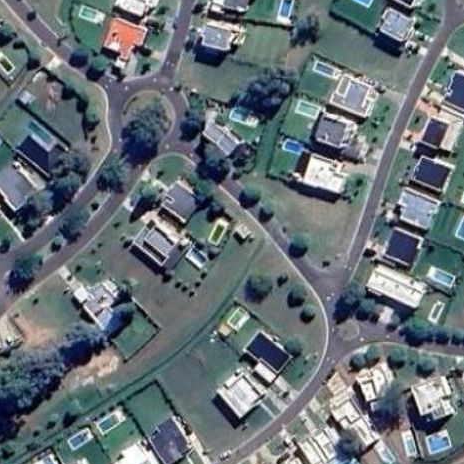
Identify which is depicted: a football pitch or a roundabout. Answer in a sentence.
I can see a roundabout in this picture.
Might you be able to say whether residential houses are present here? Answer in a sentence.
Yes, the photo shows a residential house.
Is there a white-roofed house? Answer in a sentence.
Yes, I can see a white-roofed house in this picture.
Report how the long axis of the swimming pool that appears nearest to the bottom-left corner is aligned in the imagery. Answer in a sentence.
The swimming pool that appears nearest to the bottom-left corner is laid out at an angle.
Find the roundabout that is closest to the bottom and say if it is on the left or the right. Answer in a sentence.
You can find the roundabout that is closest to the bottom on the left side of the picture.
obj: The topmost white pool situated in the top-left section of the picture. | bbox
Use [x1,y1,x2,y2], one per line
[80,6,104,23]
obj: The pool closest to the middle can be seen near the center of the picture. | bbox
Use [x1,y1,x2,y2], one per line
[208,221,230,246]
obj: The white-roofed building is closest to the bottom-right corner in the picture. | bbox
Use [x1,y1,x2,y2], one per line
[412,374,462,420]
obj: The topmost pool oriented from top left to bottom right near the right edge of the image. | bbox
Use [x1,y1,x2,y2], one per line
[428,265,456,289]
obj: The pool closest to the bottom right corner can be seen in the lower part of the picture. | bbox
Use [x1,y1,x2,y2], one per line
[425,430,453,454]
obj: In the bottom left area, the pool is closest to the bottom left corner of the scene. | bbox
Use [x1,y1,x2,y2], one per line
[68,427,94,451]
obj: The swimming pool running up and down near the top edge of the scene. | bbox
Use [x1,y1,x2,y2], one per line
[277,0,294,25]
